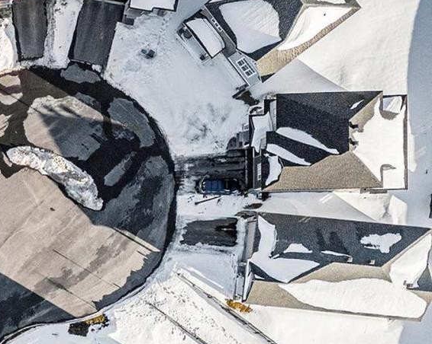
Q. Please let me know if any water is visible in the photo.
No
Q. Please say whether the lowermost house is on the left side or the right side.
right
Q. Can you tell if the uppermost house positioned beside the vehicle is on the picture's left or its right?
right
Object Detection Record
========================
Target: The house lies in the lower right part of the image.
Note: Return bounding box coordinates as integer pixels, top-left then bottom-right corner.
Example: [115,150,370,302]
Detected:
[233,212,432,323]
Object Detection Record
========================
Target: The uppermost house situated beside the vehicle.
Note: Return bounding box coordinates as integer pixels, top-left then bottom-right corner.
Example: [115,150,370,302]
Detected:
[240,90,408,193]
